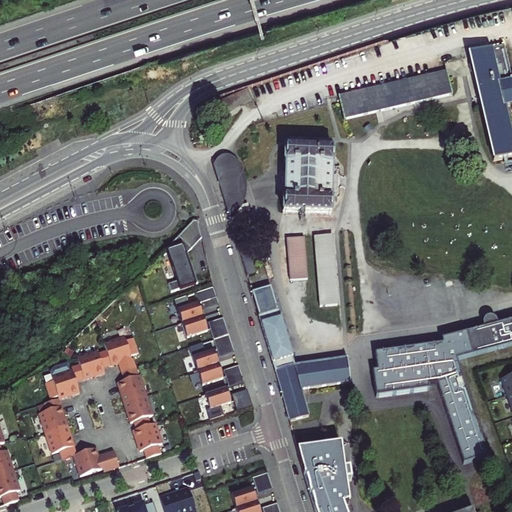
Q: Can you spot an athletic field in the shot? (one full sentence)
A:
No, there appears to be no athletic field in this shot.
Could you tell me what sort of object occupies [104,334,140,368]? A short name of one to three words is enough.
house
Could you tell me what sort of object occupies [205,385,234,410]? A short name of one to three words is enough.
house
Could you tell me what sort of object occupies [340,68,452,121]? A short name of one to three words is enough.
building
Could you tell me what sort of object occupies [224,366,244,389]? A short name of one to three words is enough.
building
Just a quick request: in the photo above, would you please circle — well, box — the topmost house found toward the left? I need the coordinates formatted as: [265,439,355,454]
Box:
[178,220,202,254]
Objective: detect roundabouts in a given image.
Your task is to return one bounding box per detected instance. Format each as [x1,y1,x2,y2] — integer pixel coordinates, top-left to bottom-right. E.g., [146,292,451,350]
[132,189,174,230]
